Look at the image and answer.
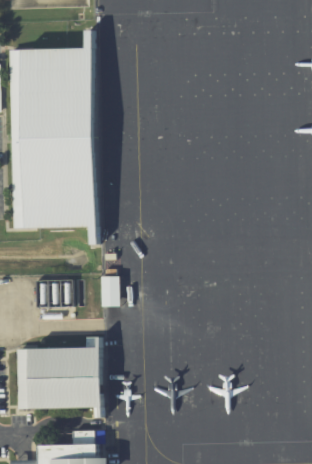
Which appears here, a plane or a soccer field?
plane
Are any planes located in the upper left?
No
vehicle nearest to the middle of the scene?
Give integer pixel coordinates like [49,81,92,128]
[128,241,146,258]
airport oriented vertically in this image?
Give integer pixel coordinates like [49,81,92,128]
[96,0,312,464]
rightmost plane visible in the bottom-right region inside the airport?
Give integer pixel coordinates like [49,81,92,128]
[206,376,248,414]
